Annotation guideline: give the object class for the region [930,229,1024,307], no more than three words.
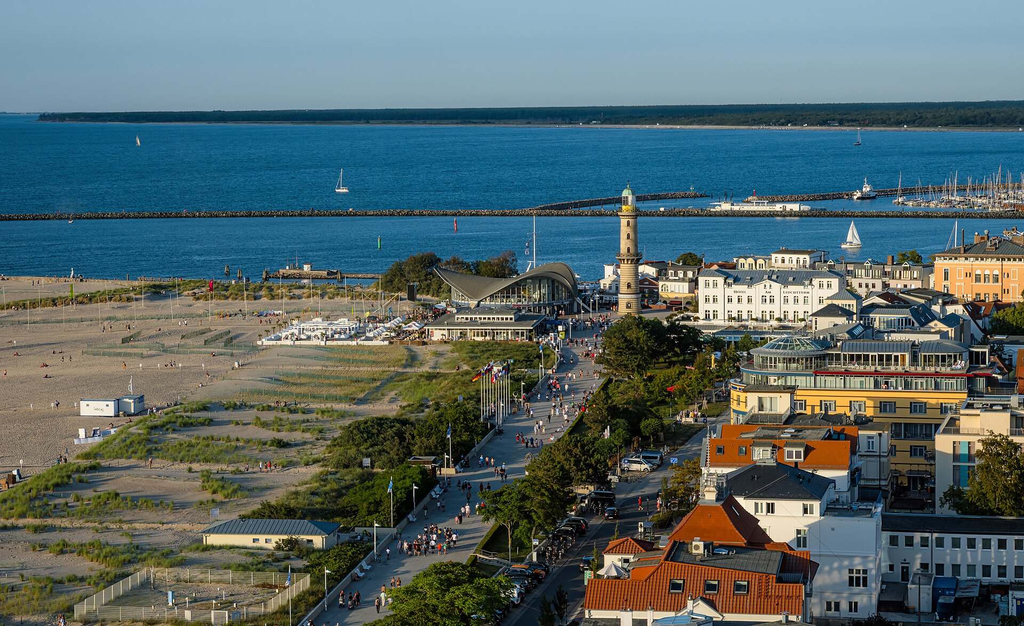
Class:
building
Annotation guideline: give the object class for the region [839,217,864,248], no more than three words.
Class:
boat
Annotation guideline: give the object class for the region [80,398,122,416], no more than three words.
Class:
building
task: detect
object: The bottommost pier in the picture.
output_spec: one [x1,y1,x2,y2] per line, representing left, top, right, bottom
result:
[268,251,386,280]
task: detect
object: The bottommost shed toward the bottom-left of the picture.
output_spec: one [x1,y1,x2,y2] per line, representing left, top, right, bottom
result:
[197,517,347,549]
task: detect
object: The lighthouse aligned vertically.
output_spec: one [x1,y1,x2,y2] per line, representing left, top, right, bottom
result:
[615,181,641,314]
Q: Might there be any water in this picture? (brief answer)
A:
Yes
